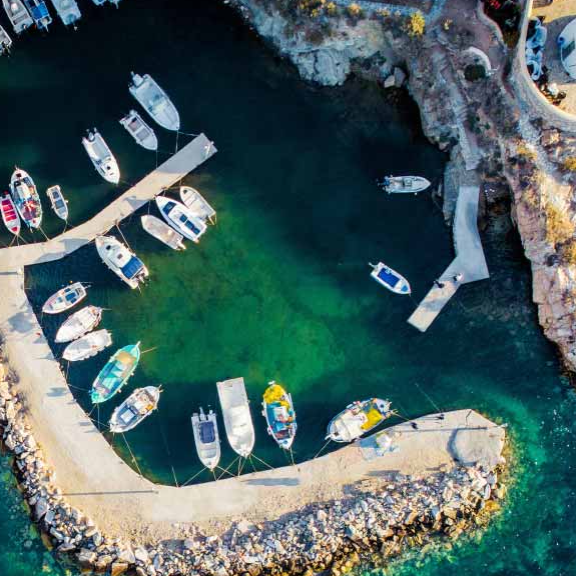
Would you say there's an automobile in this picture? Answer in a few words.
No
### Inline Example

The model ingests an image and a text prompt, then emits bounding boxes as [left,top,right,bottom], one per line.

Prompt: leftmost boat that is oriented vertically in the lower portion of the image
[195,410,220,470]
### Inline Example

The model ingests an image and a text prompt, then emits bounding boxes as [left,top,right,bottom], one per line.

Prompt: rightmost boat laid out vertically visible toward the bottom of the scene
[264,382,299,452]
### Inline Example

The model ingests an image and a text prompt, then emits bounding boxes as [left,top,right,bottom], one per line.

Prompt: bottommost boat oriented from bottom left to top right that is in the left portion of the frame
[109,388,159,431]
